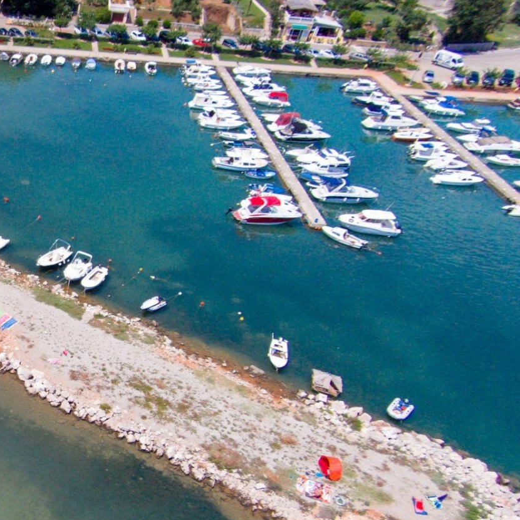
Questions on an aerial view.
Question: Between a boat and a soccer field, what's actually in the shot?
boat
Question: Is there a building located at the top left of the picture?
Yes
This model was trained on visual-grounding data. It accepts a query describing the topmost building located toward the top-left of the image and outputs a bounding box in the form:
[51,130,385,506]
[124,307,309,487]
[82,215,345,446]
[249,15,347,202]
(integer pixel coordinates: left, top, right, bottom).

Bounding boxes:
[111,0,139,28]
